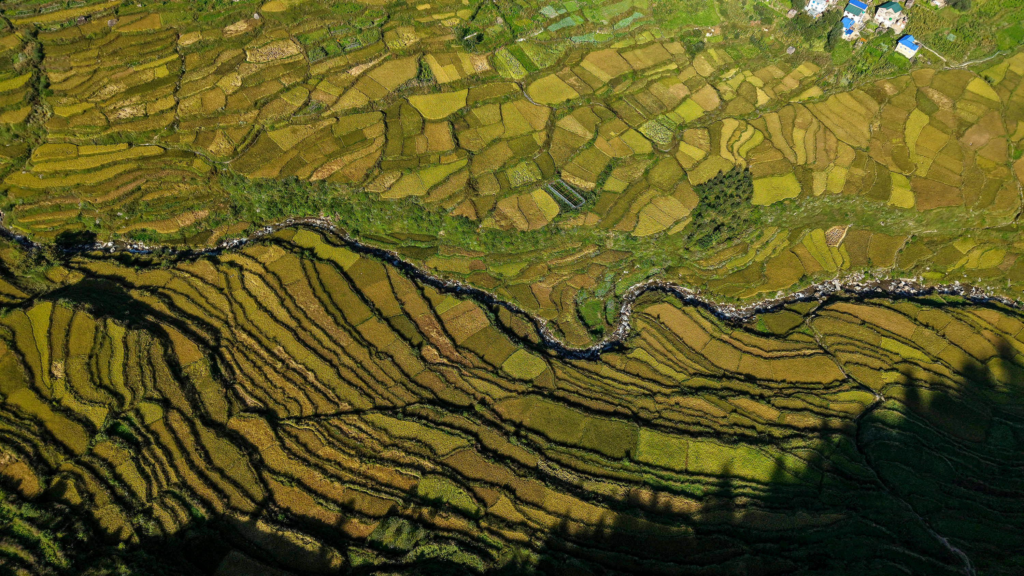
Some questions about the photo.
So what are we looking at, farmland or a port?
farmland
